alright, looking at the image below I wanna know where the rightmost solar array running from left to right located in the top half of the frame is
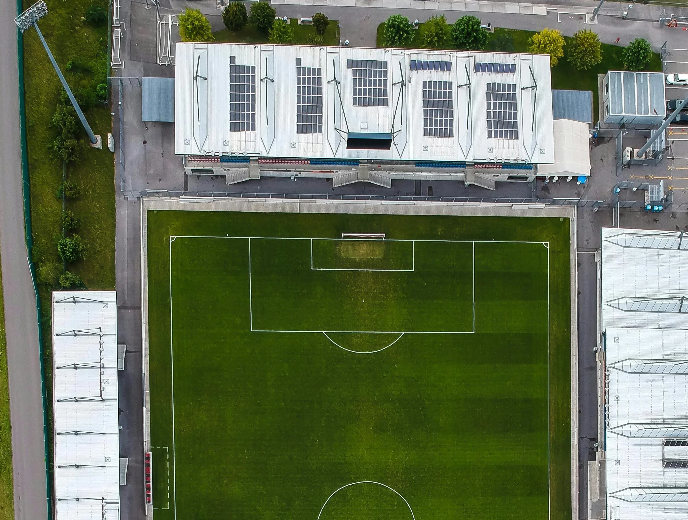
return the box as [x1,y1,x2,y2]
[475,59,517,74]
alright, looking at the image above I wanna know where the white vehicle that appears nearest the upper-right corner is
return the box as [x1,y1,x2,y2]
[667,71,688,85]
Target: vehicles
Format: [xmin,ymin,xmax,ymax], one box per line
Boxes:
[667,71,688,85]
[669,97,688,111]
[669,113,688,126]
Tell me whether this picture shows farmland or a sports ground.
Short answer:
sports ground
